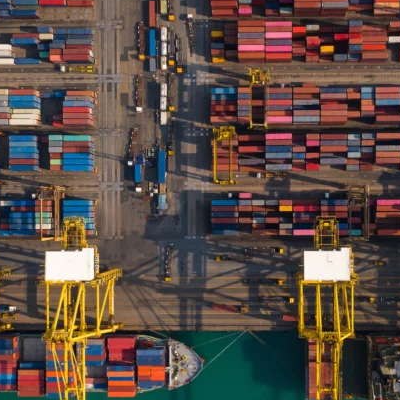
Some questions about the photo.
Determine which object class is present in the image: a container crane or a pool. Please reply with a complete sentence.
The image shows a container crane.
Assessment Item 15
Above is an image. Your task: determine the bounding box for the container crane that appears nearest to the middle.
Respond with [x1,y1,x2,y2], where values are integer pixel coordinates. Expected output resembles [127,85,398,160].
[212,125,237,187]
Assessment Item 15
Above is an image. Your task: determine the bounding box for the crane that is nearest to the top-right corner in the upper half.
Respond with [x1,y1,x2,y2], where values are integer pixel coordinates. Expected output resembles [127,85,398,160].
[246,68,271,134]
